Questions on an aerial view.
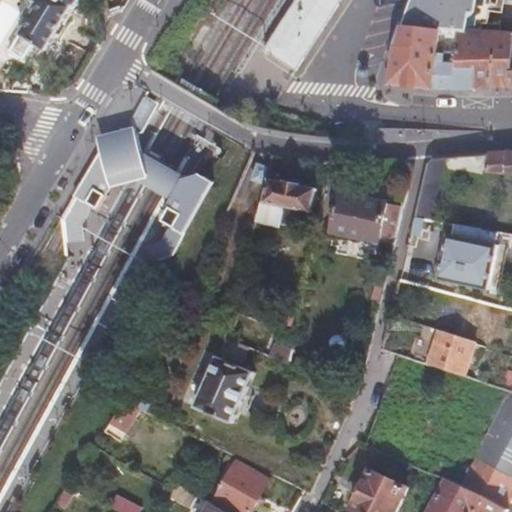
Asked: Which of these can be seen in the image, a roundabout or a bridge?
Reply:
bridge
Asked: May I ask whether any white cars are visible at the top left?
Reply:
Yes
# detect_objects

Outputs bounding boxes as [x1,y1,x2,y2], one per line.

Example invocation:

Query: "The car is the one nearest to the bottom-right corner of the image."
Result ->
[370,386,384,406]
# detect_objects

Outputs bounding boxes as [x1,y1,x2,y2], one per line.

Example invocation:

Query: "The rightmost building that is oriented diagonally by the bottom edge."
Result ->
[474,459,512,506]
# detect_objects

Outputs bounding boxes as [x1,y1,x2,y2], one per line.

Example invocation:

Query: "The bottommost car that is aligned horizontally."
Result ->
[410,262,432,274]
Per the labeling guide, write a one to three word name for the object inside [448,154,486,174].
shed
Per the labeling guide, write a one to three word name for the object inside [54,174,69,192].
car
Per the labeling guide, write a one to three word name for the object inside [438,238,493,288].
house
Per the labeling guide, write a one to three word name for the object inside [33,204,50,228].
car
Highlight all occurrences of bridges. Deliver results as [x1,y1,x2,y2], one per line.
[148,66,250,147]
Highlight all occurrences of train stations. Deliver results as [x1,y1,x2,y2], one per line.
[0,0,285,512]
